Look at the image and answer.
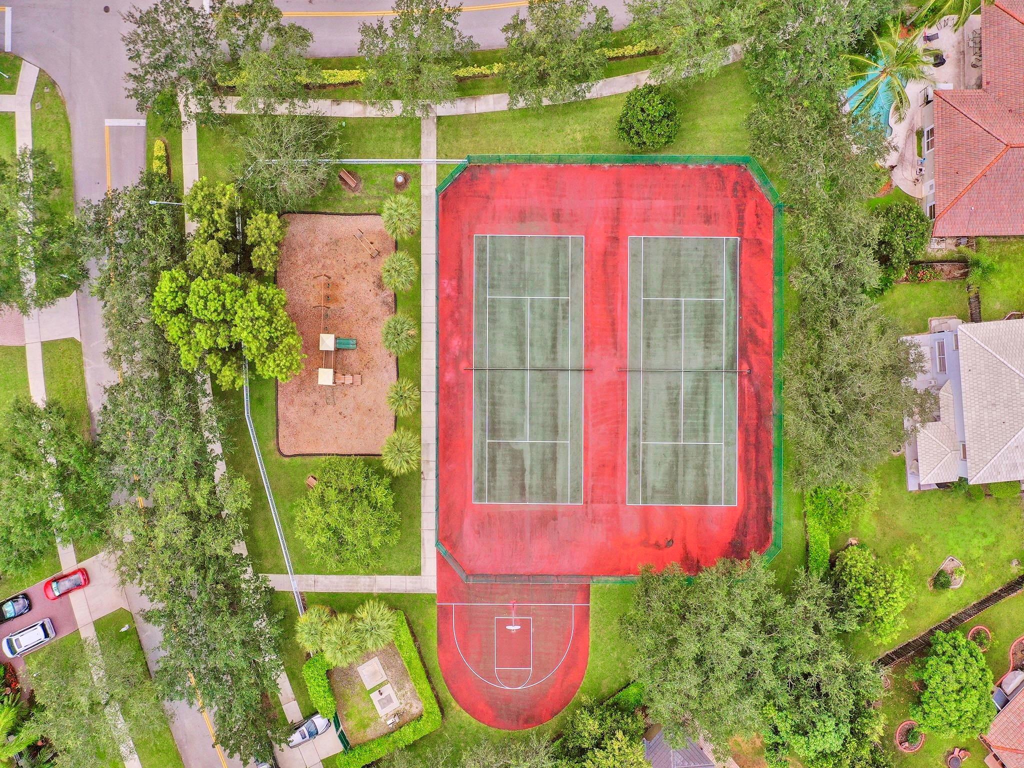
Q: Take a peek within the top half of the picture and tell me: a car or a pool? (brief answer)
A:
pool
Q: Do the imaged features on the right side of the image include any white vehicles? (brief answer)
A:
No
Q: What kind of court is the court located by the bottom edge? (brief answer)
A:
basketball court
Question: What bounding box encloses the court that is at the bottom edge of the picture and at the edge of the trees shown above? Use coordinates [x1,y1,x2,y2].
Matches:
[437,549,591,731]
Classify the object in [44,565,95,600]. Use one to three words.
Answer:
car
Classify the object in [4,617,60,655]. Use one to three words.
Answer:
car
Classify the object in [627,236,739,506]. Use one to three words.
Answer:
tennis court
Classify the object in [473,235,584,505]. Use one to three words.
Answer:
tennis court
